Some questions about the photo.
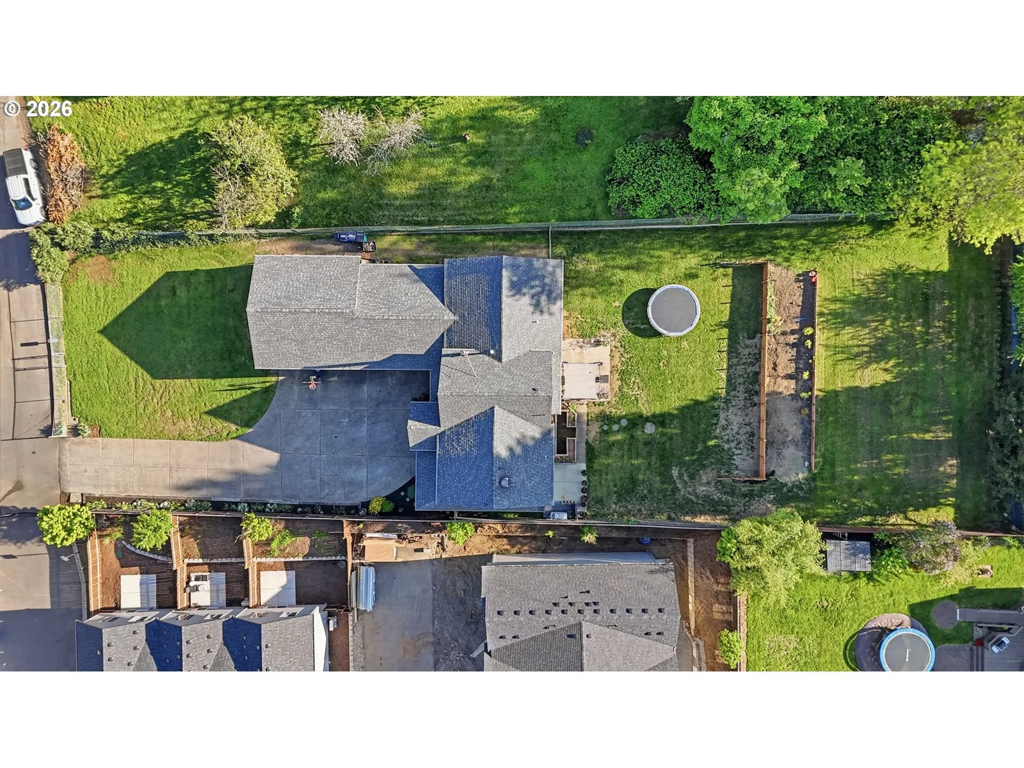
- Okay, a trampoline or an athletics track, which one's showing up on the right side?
trampoline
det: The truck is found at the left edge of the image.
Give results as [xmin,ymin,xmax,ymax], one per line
[6,148,48,229]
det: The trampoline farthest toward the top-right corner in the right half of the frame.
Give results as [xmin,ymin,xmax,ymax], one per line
[647,284,700,337]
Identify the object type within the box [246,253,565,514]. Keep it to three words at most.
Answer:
house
